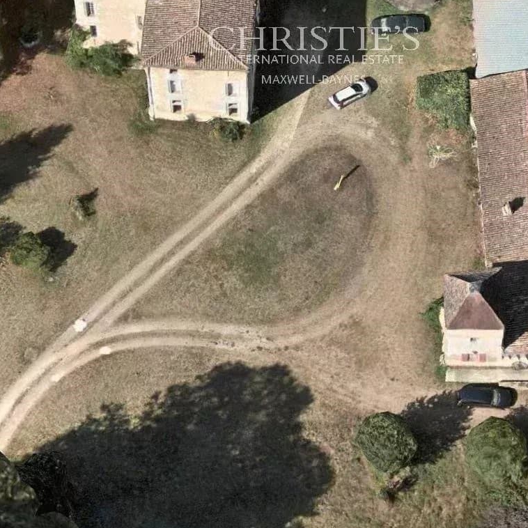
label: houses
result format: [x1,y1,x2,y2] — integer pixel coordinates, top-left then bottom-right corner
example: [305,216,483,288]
[467,66,528,369]
[140,0,260,122]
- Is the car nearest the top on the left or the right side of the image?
right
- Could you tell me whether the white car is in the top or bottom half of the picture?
top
